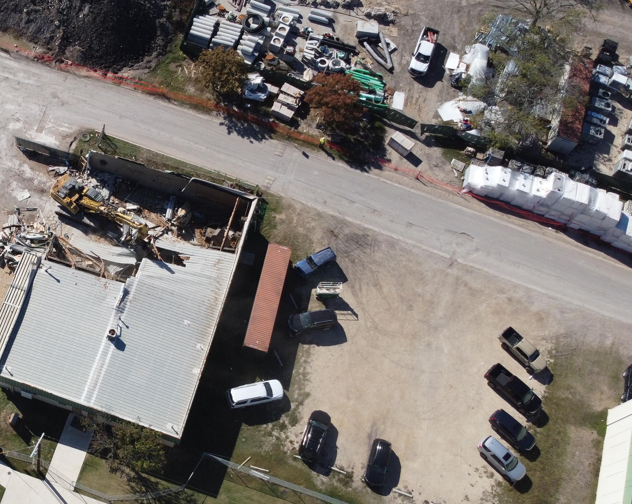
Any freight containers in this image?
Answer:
Yes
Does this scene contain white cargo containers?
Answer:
No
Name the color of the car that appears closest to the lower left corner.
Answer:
white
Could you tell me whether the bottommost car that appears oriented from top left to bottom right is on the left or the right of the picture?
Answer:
right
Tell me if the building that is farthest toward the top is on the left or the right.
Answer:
left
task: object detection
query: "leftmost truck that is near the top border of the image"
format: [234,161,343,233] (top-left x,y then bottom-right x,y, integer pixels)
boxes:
[409,22,442,77]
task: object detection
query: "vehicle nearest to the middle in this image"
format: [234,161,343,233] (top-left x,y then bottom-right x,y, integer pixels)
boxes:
[295,246,337,277]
